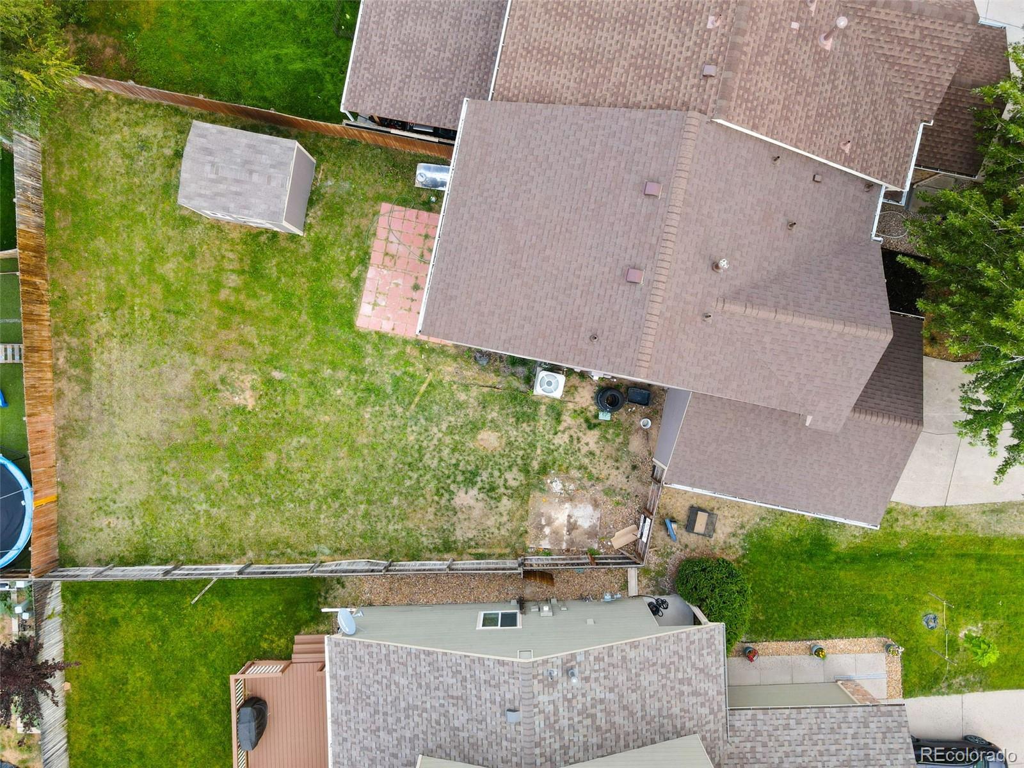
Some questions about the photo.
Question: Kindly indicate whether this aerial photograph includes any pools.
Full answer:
No, the scene contains no pool.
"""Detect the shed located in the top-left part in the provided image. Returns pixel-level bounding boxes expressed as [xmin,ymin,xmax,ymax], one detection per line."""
[178,121,316,235]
